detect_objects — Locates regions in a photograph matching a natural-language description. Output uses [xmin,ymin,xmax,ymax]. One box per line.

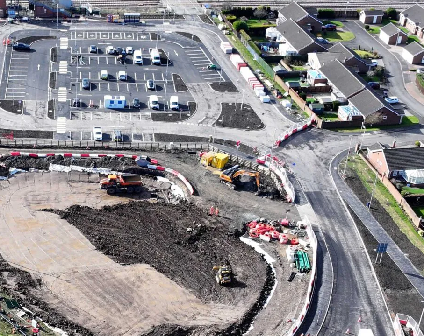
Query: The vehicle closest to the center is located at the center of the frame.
[215,163,257,189]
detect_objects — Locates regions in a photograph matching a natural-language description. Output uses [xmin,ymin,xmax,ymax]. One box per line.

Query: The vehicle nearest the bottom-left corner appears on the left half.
[102,177,144,196]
